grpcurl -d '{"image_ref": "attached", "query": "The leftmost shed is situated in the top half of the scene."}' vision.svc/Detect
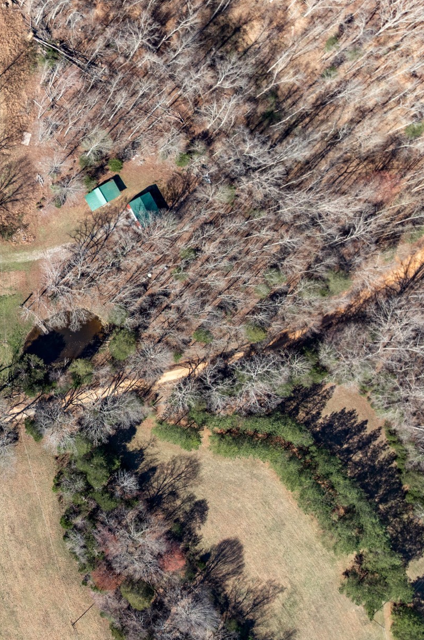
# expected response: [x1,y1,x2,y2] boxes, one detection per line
[84,180,121,212]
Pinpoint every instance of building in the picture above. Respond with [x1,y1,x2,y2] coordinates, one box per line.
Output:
[127,192,164,231]
[84,180,121,212]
